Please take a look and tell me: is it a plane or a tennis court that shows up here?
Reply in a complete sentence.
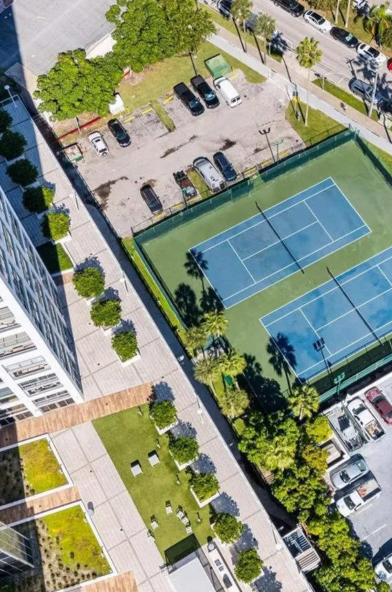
Of the two, only a tennis court appears.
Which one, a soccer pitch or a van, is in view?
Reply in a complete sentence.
There is a van in the scene.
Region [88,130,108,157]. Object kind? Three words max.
car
